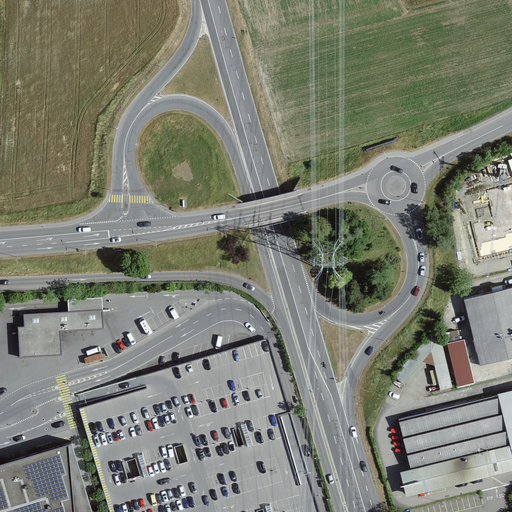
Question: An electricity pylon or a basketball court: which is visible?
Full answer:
This aerial view contains an electricity pylon.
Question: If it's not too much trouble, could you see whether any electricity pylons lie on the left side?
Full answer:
No, there's no electricity pylon to be seen on the left side.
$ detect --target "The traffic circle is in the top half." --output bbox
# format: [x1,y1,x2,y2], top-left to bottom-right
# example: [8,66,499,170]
[367,156,425,214]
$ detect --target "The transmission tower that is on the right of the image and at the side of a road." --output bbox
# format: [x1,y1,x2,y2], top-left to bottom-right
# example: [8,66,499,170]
[304,241,352,280]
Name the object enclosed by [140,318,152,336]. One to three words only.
vehicle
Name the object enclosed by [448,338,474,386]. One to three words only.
building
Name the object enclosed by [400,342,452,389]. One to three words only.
shed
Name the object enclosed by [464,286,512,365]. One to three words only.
building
